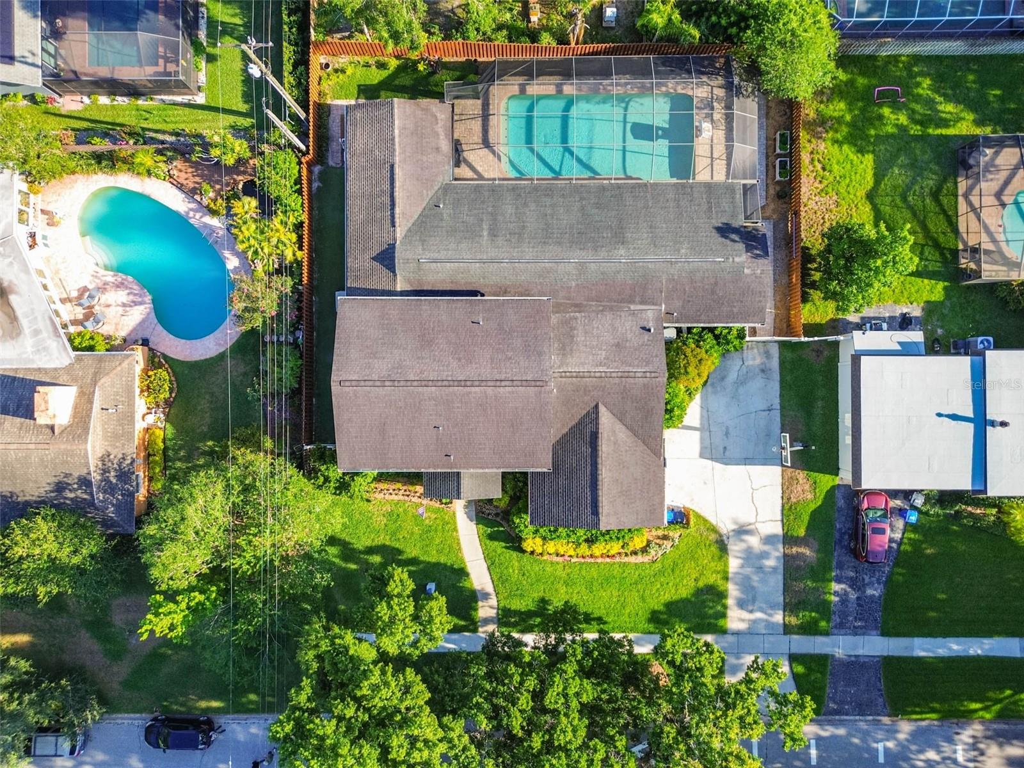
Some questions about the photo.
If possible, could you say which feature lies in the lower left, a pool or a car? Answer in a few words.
car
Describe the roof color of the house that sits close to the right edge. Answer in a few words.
white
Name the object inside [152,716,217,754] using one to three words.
car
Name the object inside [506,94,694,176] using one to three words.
swimming pool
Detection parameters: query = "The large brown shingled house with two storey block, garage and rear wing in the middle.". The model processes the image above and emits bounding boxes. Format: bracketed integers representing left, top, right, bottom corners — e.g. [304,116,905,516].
[331,97,774,530]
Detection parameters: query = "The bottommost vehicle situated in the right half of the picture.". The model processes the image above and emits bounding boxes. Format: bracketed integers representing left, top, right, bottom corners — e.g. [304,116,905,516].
[857,491,898,564]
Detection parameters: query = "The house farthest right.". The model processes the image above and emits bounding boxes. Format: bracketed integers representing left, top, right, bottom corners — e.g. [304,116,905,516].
[838,331,1024,496]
